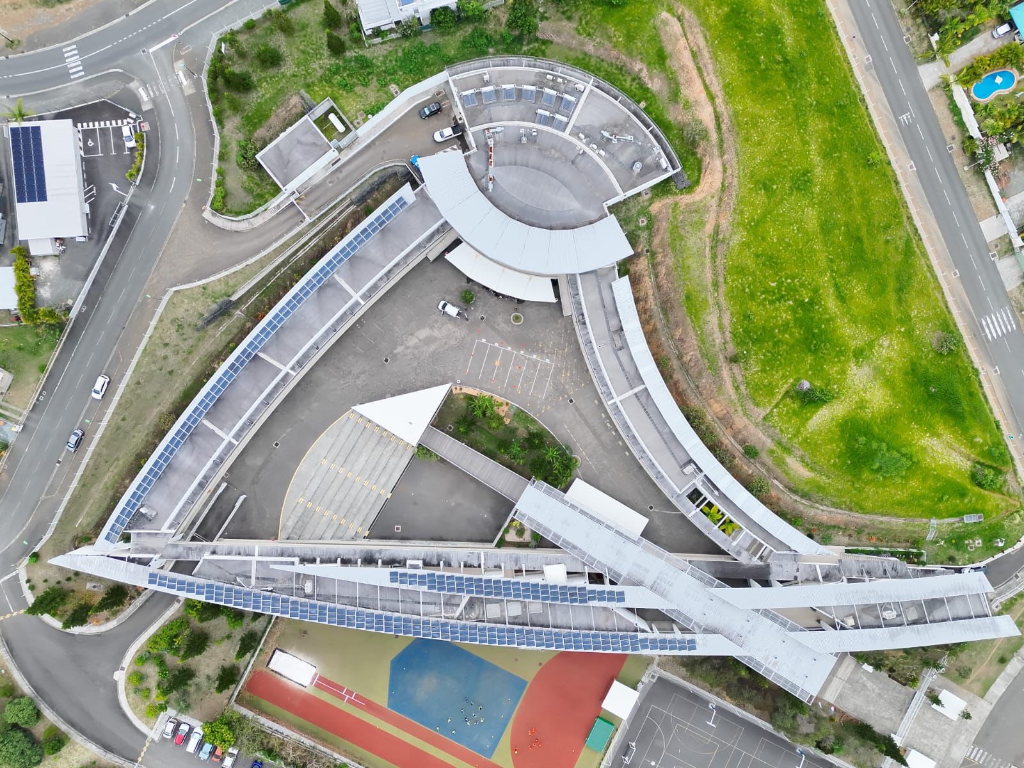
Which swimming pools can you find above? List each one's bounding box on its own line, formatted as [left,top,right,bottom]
[969,67,1019,103]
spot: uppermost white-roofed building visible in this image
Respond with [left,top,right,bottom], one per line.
[359,0,458,50]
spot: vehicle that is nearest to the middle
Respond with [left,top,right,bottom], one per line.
[438,300,466,322]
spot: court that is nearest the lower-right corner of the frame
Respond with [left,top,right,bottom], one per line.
[582,669,861,768]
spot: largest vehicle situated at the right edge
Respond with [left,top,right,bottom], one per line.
[990,18,1016,37]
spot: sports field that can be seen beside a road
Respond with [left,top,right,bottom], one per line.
[234,616,651,768]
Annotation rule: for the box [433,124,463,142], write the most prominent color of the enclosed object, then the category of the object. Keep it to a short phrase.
white vehicle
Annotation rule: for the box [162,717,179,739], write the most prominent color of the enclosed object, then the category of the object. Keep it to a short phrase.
white car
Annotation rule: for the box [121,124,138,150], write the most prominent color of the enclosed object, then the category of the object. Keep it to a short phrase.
white car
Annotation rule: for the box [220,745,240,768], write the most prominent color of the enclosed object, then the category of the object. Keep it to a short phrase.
white vehicle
